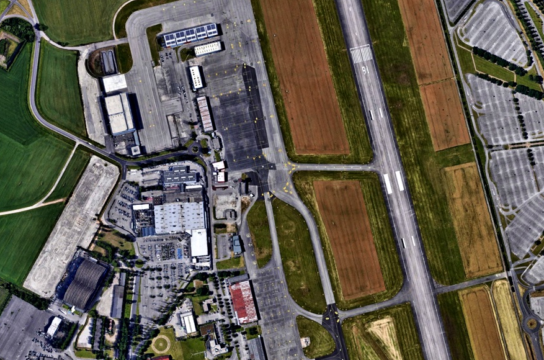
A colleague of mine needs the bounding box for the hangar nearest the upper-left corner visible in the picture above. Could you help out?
[102,74,129,92]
